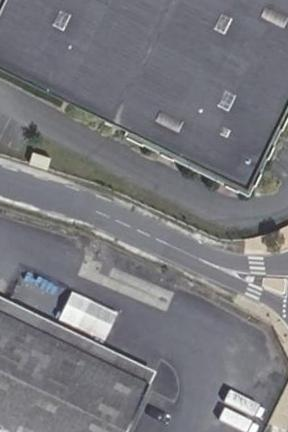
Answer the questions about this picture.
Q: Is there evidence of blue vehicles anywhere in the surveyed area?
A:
No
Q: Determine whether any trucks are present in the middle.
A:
No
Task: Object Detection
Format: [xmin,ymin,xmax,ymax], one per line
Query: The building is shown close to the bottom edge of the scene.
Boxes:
[0,298,156,432]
